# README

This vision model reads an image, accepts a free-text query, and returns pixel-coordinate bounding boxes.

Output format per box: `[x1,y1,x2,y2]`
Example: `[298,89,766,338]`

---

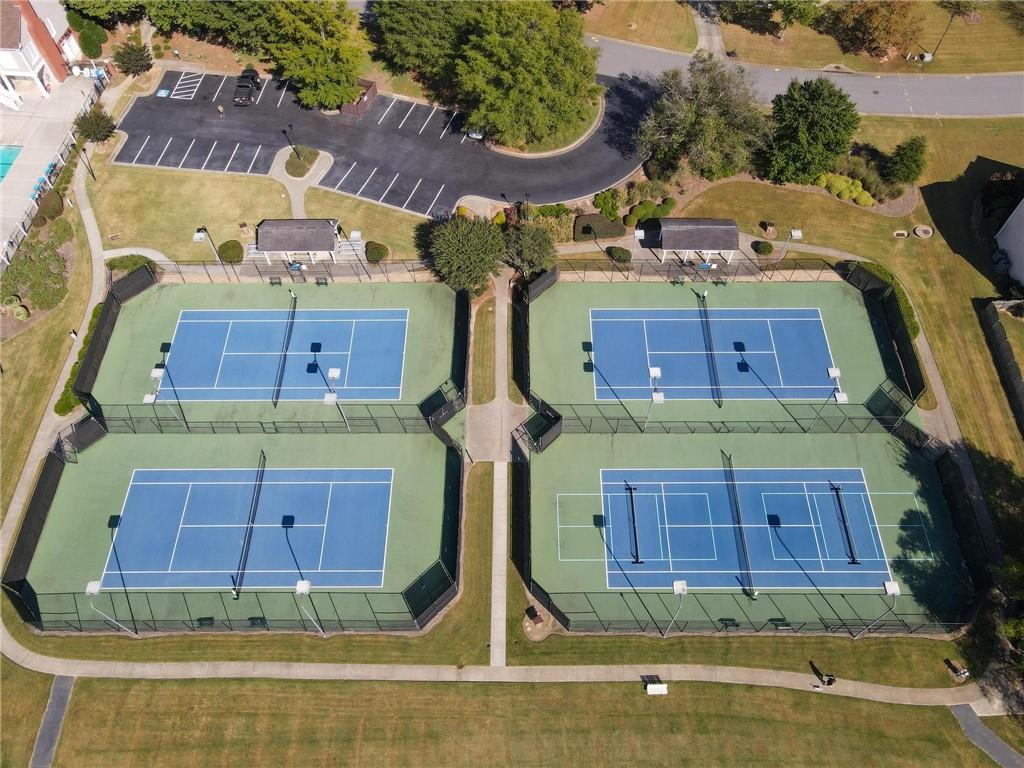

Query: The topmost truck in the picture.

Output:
[230,72,258,106]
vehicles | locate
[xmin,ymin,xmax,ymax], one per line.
[463,120,482,140]
[230,72,258,106]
